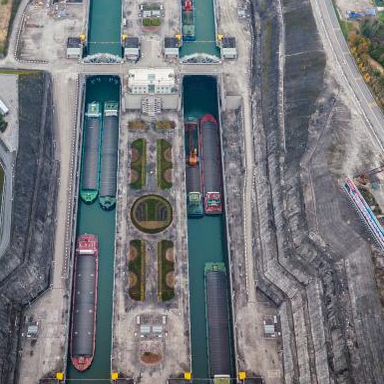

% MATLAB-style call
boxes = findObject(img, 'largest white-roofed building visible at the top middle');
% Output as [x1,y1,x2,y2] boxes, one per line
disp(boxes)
[129,64,174,93]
